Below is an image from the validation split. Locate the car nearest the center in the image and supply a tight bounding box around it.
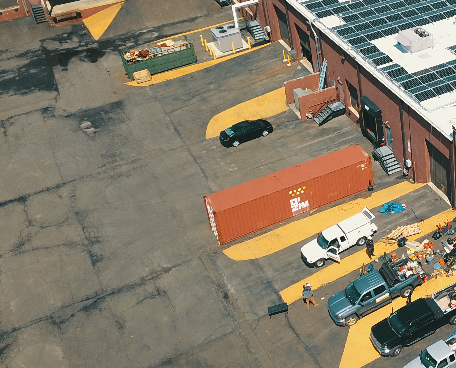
[211,116,277,147]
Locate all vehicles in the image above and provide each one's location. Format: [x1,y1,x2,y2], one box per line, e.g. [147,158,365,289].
[396,336,456,368]
[320,256,428,330]
[294,208,373,269]
[363,282,456,357]
[211,116,277,147]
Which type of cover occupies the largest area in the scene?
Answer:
paved ground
